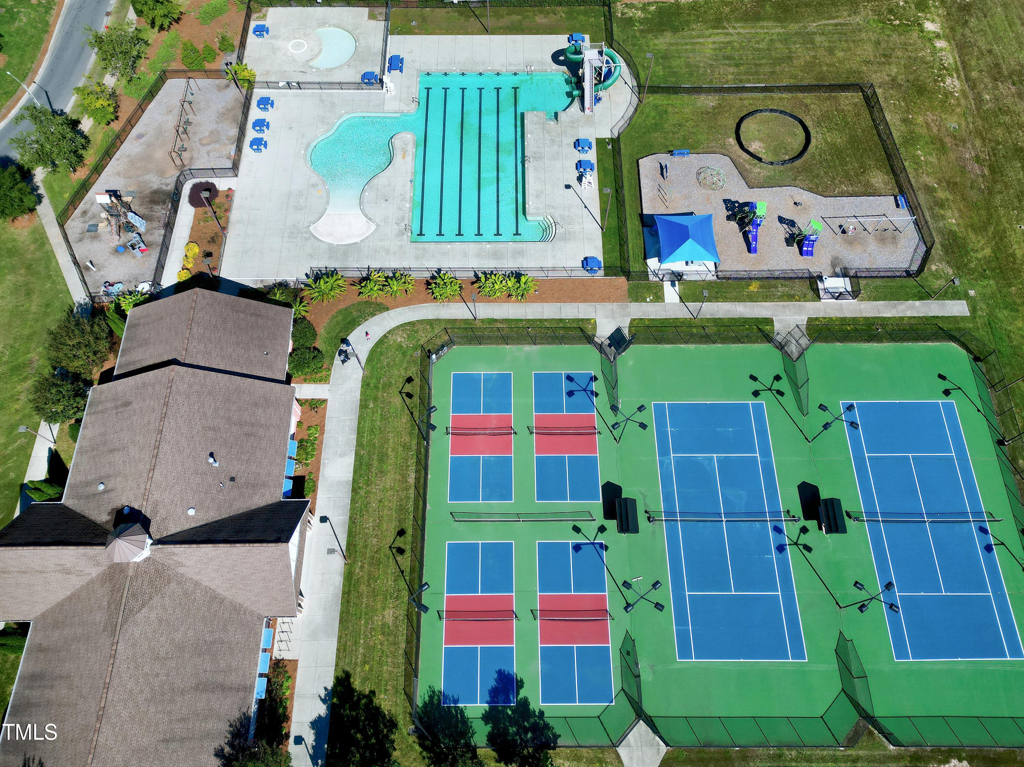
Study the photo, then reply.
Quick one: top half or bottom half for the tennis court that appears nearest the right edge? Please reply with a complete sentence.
The bottom half of the photo is where the tennis court that appears nearest the right edge is.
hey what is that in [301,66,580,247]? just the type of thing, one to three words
swimming pool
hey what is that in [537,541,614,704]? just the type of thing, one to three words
sports court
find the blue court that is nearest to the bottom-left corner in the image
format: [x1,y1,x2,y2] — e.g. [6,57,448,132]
[442,542,515,705]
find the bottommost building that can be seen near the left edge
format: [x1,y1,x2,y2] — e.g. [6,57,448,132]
[0,289,326,767]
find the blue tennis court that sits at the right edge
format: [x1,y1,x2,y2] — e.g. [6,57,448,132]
[840,400,1024,661]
